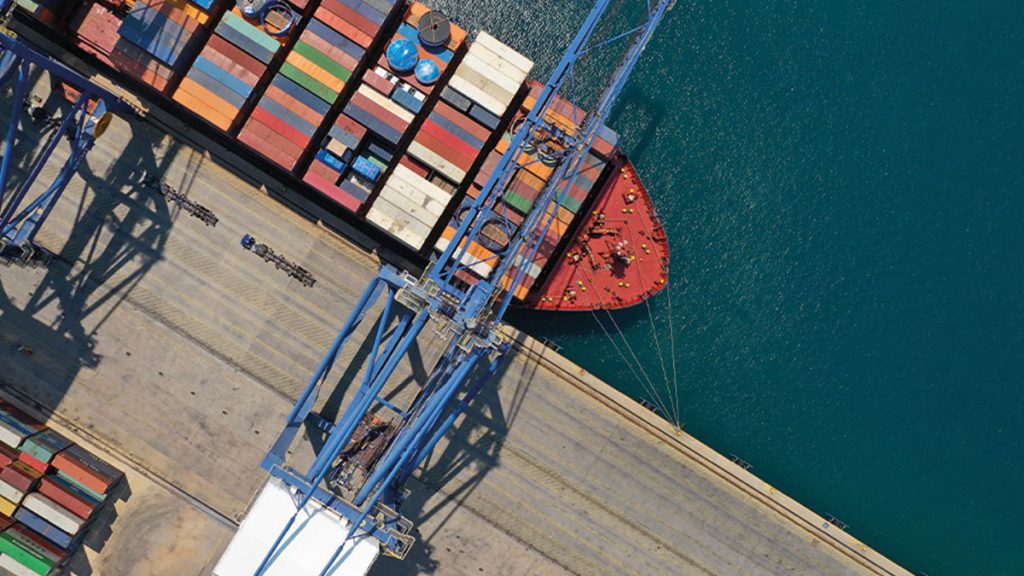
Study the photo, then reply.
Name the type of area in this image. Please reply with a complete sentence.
It's a port.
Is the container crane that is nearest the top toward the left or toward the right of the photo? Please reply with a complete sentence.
The container crane that is nearest the top sits on the left side.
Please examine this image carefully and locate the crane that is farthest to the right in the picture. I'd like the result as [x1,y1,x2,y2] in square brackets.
[196,0,674,576]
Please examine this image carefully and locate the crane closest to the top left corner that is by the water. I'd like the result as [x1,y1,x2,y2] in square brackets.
[0,0,144,254]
